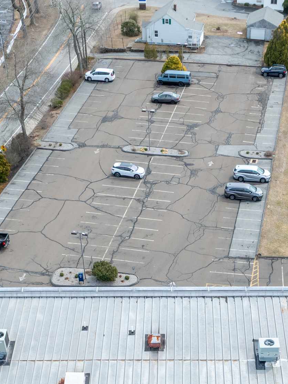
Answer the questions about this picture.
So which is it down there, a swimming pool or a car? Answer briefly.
car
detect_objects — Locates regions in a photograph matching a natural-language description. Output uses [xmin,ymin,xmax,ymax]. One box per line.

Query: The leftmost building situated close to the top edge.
[133,0,207,47]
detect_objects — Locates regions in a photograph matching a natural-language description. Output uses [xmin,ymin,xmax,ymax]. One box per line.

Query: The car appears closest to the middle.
[111,159,148,177]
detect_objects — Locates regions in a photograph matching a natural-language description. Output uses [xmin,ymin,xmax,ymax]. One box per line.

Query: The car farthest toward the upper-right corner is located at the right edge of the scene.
[261,61,288,76]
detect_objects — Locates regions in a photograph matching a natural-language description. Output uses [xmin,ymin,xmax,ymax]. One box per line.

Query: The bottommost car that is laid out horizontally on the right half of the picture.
[224,180,265,200]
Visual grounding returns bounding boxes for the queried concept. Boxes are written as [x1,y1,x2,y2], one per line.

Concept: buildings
[0,286,288,384]
[246,9,285,41]
[133,0,207,47]
[236,0,288,10]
